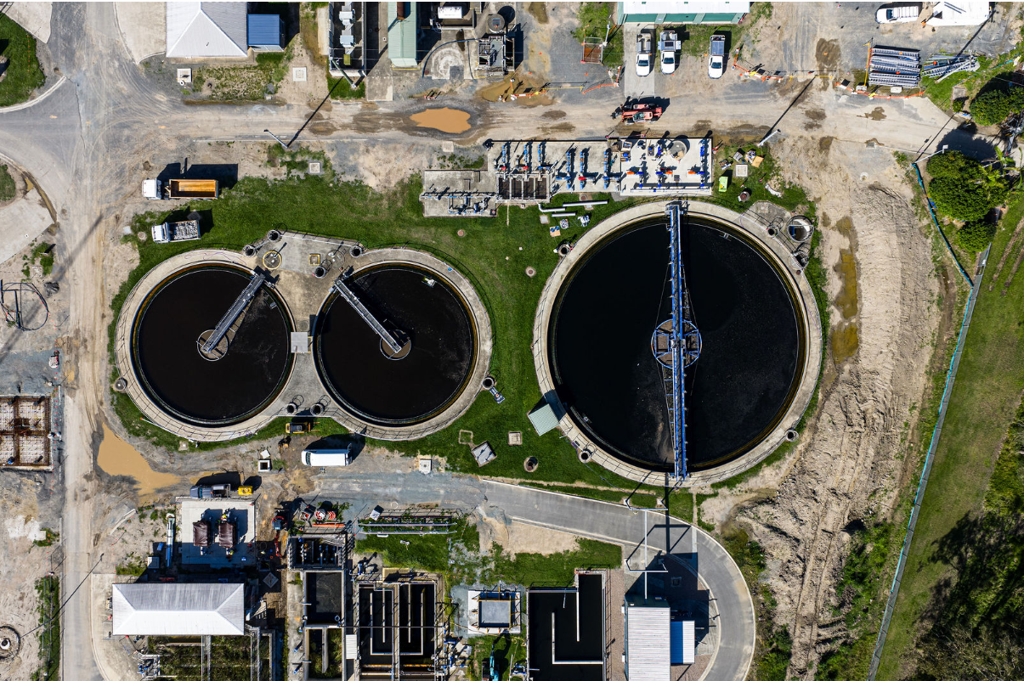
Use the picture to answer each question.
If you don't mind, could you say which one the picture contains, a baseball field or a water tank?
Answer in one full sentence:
It is a water tank that can be seen here.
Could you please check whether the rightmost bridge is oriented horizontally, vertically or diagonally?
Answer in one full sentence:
What the image shows is the rightmost bridge lying vertically.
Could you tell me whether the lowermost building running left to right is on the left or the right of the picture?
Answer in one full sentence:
The lowermost building running left to right sits on the left side.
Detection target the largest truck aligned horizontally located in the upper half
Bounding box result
[140,175,221,201]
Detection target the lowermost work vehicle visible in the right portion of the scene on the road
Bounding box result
[607,97,662,124]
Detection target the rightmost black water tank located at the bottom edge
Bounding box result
[527,570,607,681]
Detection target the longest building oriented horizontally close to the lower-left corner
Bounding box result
[111,579,250,635]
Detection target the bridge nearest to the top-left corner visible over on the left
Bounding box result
[198,263,275,355]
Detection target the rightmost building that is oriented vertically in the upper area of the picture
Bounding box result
[389,0,418,69]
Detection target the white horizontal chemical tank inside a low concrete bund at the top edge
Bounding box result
[432,0,475,29]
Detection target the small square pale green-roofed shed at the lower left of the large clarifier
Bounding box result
[529,404,560,436]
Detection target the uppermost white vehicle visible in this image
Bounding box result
[873,4,922,25]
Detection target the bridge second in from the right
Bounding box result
[321,270,405,354]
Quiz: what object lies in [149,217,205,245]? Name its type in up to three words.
truck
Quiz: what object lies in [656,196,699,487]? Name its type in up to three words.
bridge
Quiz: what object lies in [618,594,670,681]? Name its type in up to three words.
building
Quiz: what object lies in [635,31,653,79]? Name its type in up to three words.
vehicle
